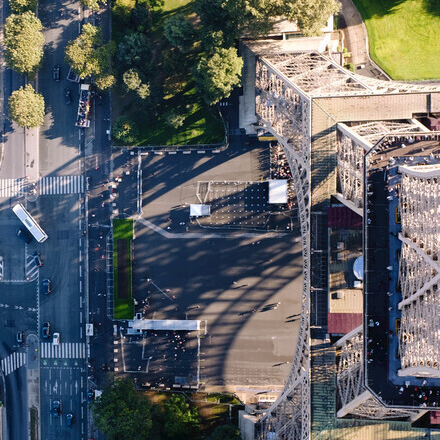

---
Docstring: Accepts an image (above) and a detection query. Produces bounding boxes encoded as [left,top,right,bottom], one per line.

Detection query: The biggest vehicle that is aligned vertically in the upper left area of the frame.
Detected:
[73,81,90,128]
